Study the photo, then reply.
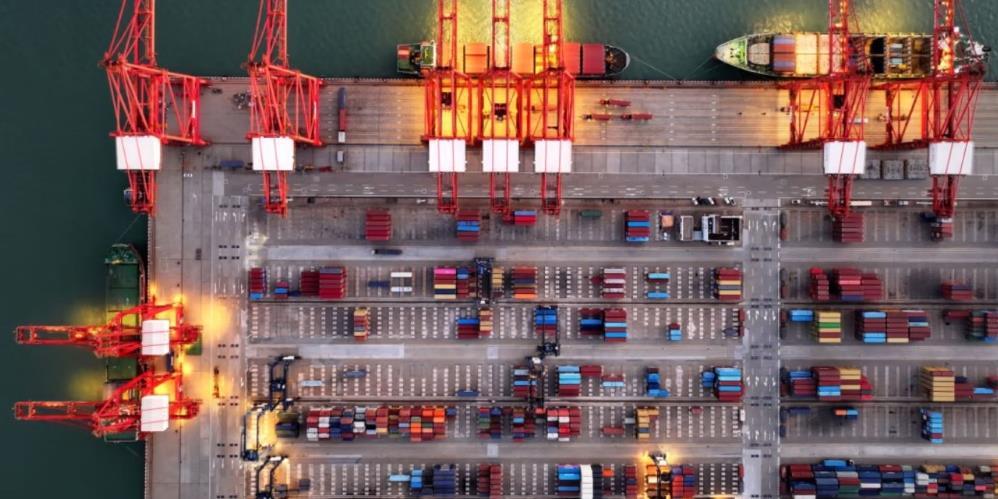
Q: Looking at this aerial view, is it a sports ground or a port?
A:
port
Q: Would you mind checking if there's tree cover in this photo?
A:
No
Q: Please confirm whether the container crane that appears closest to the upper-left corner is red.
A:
Yes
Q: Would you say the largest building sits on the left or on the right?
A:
right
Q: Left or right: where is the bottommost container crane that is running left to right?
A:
left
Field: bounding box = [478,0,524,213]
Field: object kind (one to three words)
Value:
container crane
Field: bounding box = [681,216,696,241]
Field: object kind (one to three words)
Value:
building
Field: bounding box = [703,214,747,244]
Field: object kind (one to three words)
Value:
building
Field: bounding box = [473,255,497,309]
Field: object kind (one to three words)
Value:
crane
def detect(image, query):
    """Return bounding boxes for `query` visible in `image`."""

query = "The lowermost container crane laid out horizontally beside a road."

[17,367,204,435]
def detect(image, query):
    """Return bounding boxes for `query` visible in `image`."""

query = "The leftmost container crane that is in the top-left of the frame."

[103,0,207,213]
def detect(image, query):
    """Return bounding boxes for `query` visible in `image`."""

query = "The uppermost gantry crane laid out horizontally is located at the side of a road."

[17,301,204,356]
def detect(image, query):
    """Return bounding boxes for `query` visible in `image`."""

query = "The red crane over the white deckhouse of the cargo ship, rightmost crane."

[871,0,990,213]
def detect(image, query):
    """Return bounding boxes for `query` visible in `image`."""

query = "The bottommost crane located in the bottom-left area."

[254,457,289,499]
